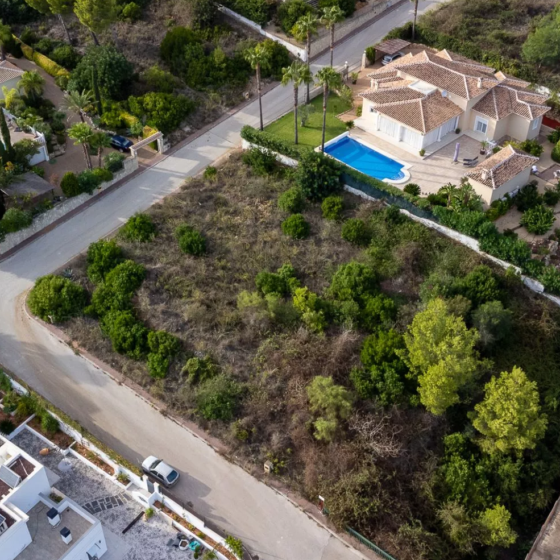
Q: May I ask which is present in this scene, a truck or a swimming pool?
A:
swimming pool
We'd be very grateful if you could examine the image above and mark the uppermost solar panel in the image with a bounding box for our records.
[0,465,22,489]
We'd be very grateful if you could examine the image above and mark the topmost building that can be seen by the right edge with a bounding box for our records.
[358,48,553,151]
